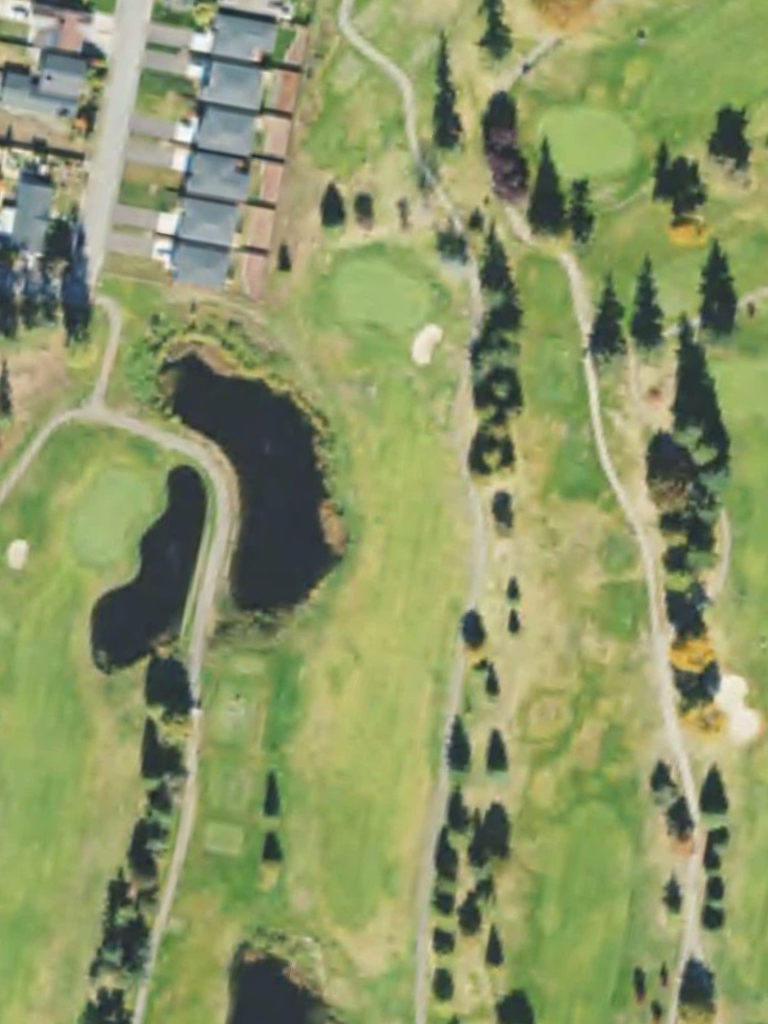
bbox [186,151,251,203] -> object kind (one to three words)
house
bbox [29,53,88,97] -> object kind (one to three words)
house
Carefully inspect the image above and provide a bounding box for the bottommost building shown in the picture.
[172,242,229,287]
